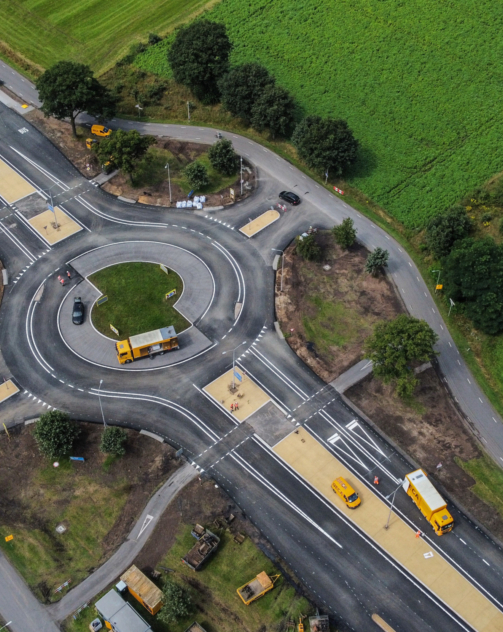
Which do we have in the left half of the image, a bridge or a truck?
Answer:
truck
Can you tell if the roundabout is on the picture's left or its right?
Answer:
left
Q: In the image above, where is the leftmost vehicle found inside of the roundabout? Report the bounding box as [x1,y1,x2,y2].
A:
[70,297,85,322]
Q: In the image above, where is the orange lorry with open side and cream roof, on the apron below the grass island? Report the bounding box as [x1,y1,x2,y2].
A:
[114,326,178,364]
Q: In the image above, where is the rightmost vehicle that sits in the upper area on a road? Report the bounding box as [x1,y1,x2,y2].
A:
[278,188,302,205]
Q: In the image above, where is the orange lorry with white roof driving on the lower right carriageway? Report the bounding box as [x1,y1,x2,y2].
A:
[396,466,459,536]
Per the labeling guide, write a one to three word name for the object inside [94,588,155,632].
building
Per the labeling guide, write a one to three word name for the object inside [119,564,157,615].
shed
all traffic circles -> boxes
[0,189,269,444]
